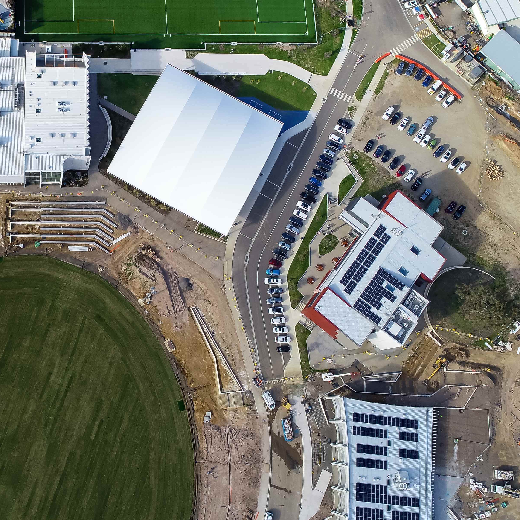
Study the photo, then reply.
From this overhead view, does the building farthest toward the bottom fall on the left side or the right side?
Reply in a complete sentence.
It is on the right.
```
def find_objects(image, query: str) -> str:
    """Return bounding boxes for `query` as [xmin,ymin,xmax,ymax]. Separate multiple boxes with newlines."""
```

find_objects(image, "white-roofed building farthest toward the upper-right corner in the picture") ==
[474,0,520,29]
